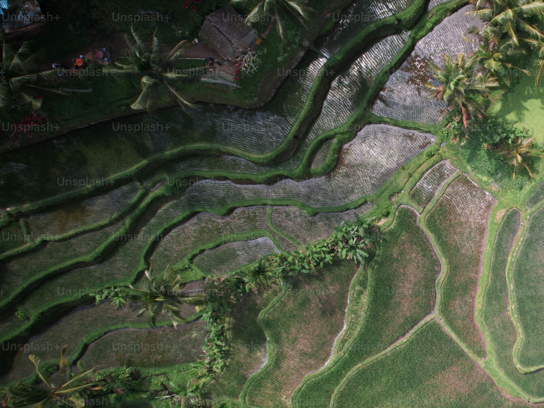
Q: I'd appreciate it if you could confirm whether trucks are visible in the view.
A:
No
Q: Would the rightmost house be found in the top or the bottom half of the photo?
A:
top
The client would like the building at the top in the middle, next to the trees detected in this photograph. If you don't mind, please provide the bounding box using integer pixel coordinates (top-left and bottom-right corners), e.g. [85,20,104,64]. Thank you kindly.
[196,0,267,70]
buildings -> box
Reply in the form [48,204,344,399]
[4,0,57,42]
[196,0,267,70]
